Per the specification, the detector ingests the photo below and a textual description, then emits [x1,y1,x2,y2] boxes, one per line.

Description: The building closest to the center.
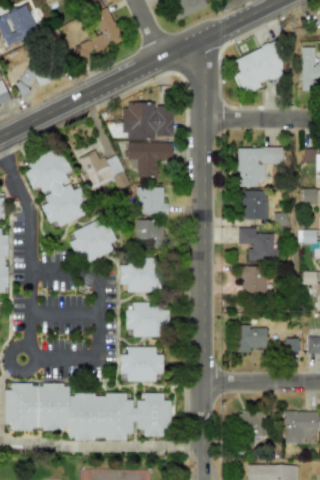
[136,220,164,246]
